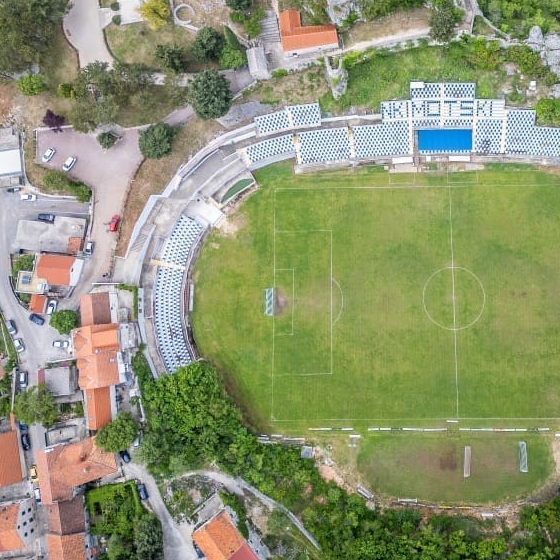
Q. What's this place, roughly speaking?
sports ground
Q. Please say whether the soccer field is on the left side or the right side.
right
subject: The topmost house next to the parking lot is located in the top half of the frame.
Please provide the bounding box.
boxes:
[0,150,28,177]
